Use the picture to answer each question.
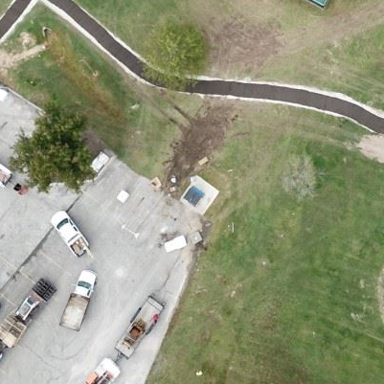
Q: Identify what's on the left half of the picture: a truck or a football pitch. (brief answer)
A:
truck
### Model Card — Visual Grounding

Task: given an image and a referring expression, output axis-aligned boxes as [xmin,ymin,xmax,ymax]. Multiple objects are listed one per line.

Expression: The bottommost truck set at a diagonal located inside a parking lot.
[85,352,122,384]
